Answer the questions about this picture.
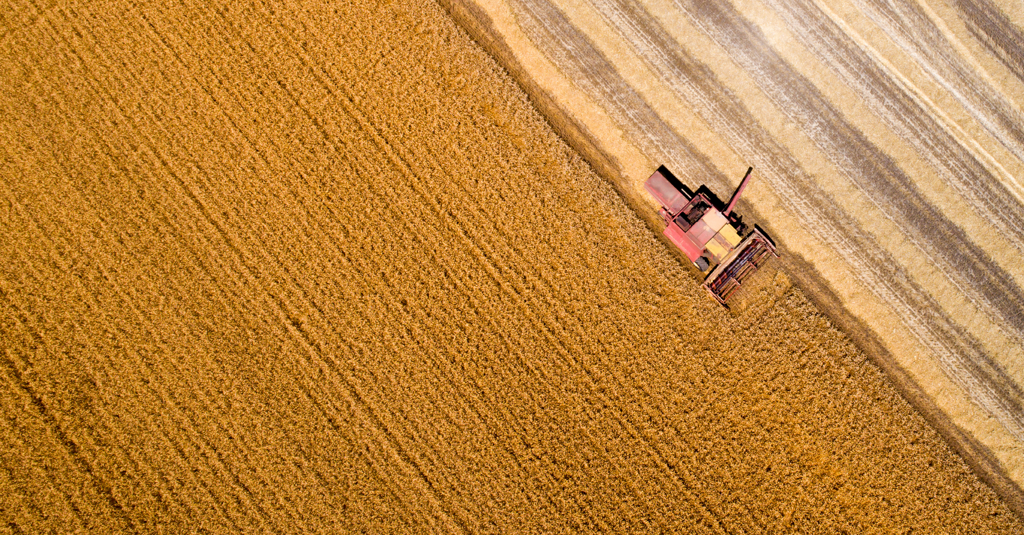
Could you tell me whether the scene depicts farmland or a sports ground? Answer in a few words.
farmland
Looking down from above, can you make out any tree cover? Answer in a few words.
No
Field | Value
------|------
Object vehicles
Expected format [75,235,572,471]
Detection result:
[642,171,782,311]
